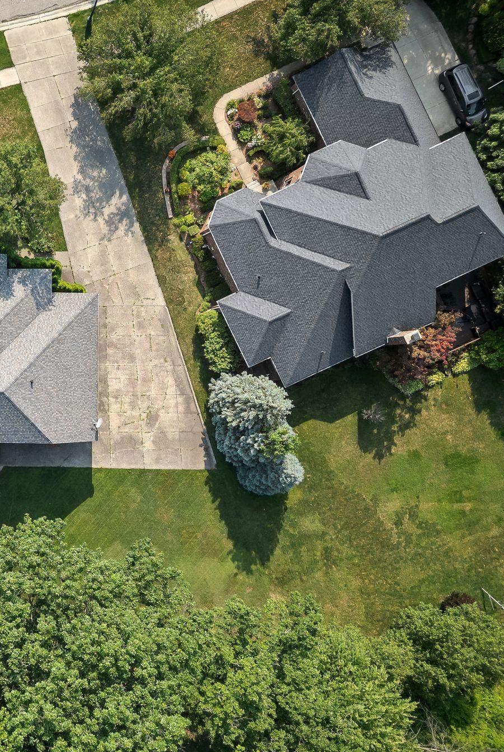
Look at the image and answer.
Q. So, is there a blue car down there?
No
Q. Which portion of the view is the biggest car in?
top right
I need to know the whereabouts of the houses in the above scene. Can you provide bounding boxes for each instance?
[0,253,103,444]
[197,41,504,389]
